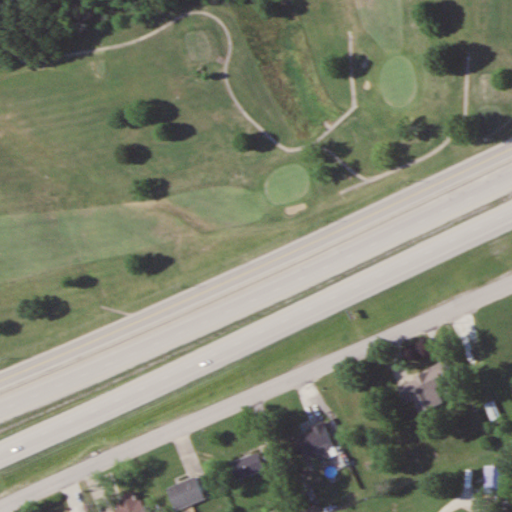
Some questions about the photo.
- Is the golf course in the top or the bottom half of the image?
top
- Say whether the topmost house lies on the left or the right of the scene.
right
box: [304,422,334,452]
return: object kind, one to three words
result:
house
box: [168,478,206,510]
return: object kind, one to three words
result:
house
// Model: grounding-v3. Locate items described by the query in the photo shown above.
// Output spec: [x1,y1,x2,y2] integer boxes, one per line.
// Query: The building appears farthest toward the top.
[416,366,446,410]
